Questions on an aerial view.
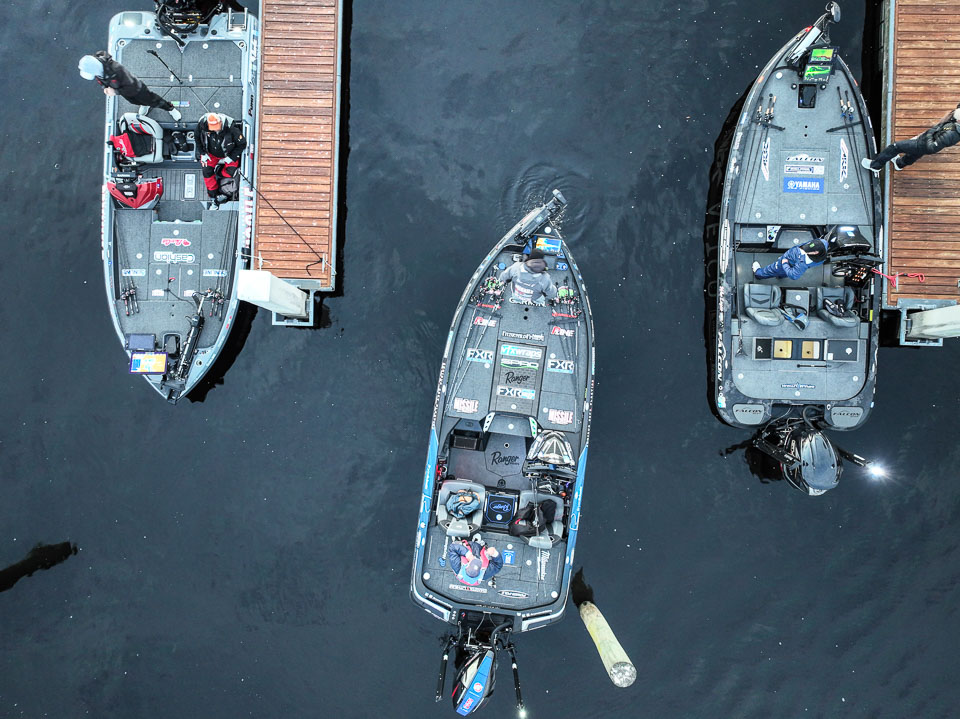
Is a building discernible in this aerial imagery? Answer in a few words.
No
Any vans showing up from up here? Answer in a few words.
No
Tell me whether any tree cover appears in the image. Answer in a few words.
No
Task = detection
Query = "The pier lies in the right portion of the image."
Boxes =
[877,0,960,346]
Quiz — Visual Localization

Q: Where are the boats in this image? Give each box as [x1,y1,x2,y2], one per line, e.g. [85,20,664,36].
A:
[99,0,255,407]
[410,188,596,716]
[712,1,883,496]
